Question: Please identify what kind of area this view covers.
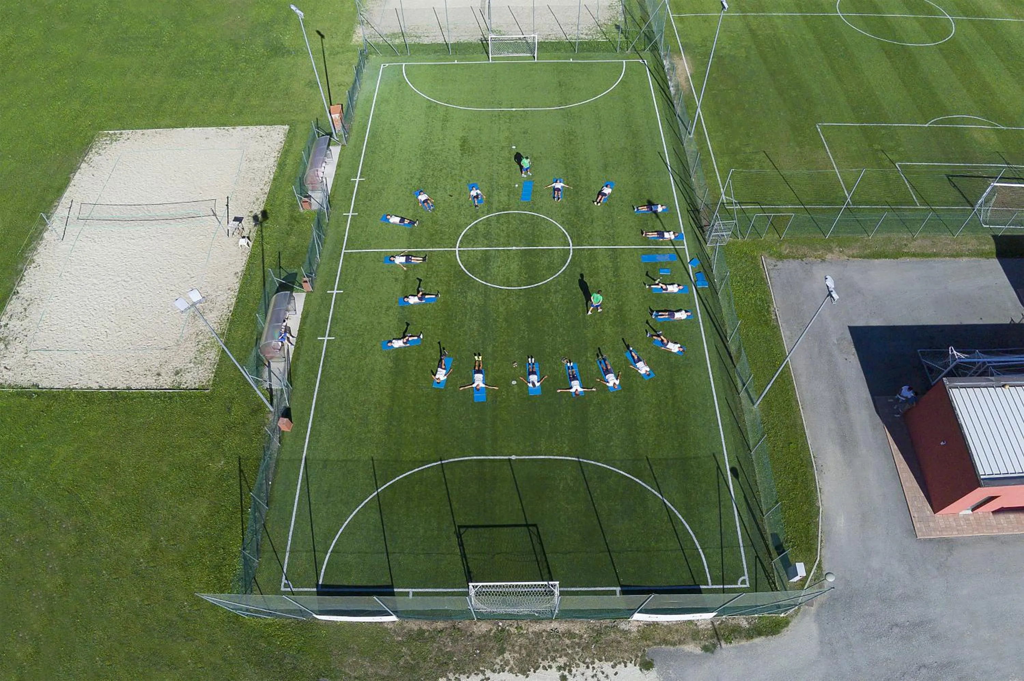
sports ground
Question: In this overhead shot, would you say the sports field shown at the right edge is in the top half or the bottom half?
top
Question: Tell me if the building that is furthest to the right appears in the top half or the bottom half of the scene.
bottom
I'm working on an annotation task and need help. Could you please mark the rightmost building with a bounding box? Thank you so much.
[905,376,1024,514]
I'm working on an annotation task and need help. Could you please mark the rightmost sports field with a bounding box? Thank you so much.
[652,0,1024,240]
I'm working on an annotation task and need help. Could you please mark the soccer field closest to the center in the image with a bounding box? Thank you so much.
[247,56,783,616]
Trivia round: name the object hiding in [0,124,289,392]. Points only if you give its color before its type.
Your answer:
white sports court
